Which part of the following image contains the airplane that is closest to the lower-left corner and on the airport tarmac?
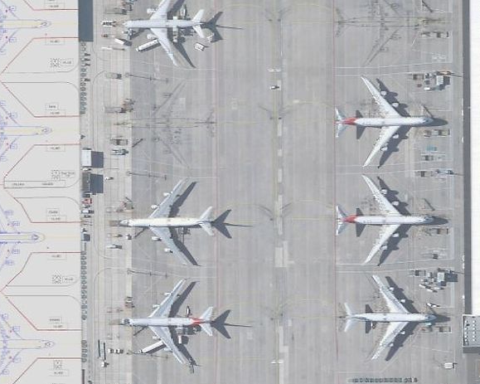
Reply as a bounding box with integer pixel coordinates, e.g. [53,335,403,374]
[123,280,216,367]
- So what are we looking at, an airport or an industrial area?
airport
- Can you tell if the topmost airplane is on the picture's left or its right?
left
